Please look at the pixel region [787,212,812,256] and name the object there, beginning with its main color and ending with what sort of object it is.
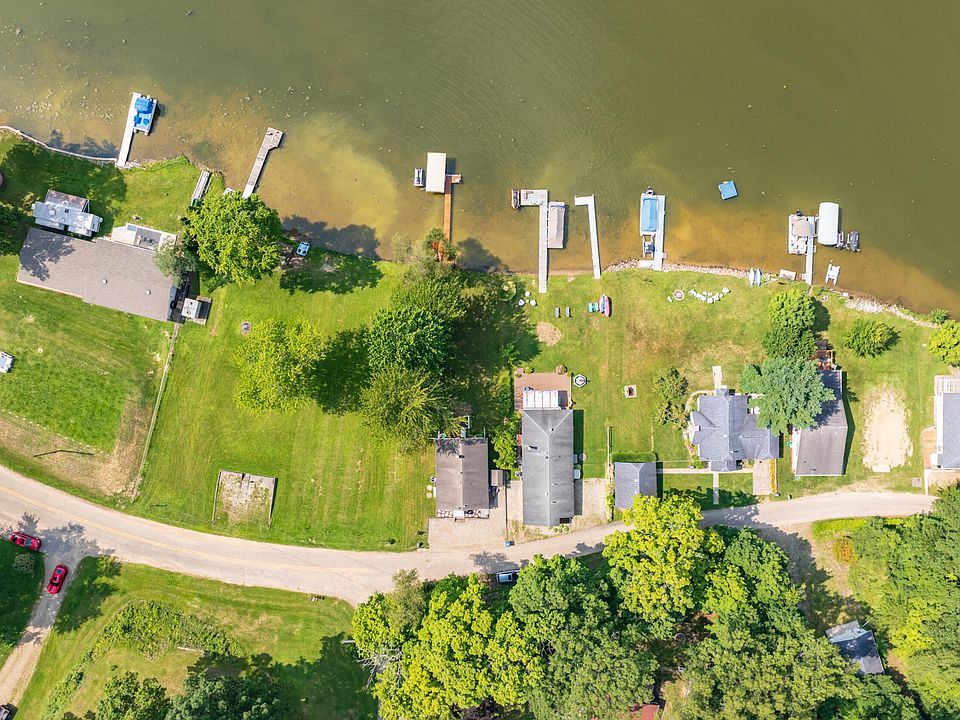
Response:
white boat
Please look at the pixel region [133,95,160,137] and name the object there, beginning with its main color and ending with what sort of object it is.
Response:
blue boat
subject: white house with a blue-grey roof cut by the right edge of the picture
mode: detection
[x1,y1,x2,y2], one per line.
[921,376,960,469]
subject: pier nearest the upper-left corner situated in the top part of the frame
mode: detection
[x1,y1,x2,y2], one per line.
[116,93,140,167]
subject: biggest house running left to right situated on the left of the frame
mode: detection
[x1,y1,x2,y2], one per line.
[18,230,192,324]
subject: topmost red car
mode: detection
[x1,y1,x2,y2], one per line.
[6,532,40,552]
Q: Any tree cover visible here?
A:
Yes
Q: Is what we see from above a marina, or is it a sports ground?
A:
marina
